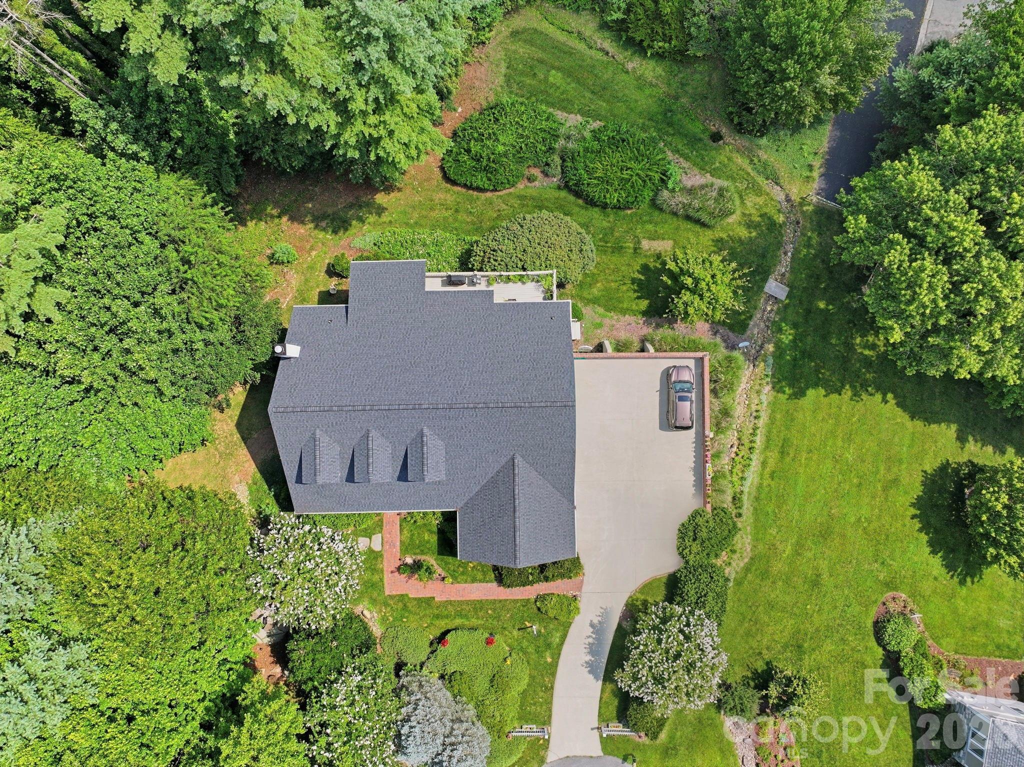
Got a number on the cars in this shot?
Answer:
1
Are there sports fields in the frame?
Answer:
No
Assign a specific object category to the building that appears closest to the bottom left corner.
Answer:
residential house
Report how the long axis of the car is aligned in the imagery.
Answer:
vertically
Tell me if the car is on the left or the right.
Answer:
right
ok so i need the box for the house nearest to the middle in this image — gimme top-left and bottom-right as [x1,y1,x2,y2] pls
[269,258,579,568]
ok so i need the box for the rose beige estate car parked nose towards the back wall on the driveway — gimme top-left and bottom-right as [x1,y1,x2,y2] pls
[667,366,698,432]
